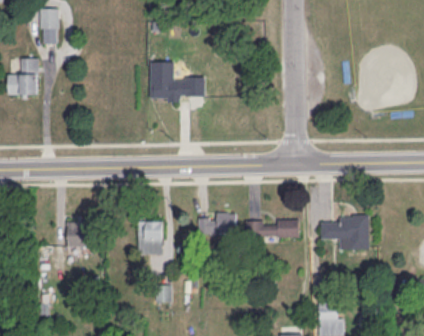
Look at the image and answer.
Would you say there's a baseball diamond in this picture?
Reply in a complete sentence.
Yes, I can see a baseball diamond in this picture.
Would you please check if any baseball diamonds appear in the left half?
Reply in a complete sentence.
No, no baseball diamond can be made out in the left half.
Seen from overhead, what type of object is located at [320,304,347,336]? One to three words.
barn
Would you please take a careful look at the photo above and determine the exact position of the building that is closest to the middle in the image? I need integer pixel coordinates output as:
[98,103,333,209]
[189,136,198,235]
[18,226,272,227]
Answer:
[199,212,239,237]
